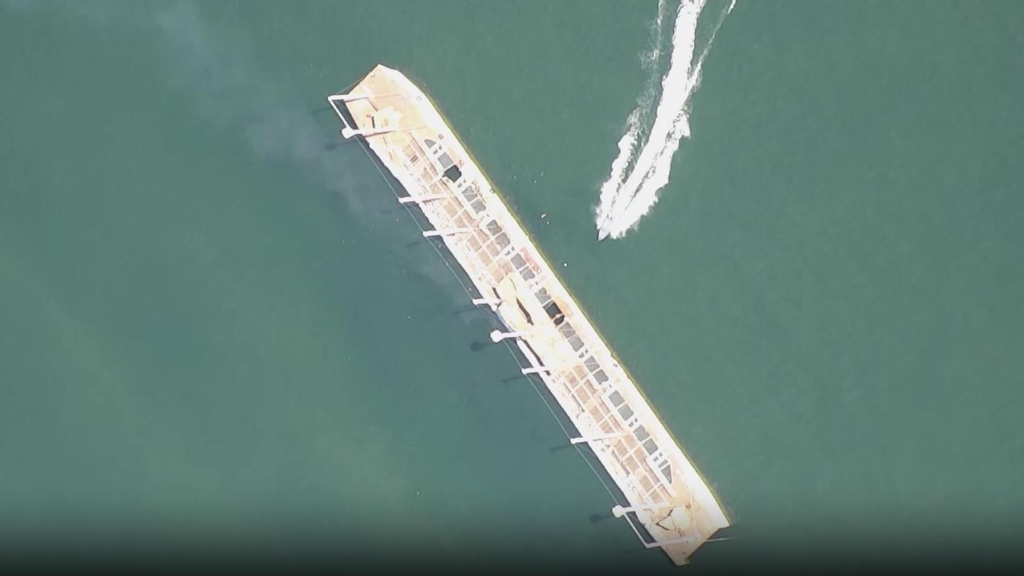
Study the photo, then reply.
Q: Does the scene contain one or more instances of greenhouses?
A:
No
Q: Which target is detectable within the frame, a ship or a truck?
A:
ship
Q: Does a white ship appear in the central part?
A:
Yes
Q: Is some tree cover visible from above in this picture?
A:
No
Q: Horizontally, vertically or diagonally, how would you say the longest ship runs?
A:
diagonally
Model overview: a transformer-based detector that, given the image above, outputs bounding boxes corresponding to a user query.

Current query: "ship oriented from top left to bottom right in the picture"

[328,64,736,565]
